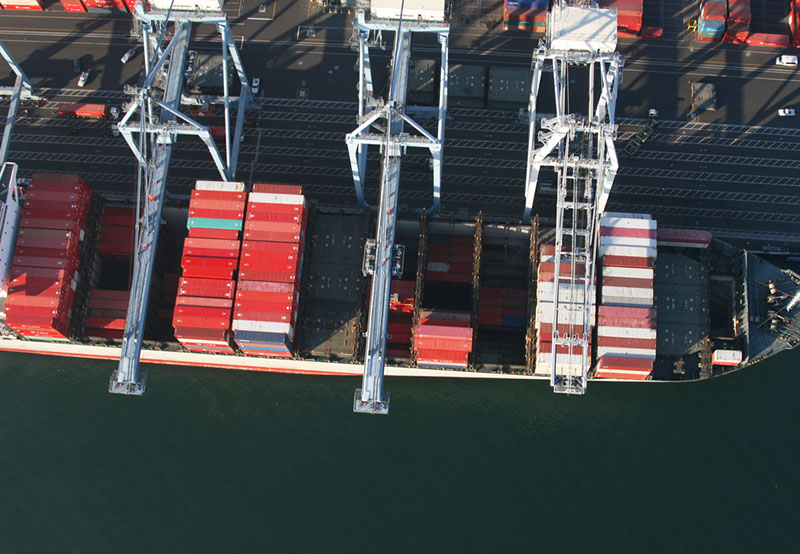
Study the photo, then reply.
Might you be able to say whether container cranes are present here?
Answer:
Yes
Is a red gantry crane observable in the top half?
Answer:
No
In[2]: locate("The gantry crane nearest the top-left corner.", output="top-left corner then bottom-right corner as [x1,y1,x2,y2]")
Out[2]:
[0,40,48,188]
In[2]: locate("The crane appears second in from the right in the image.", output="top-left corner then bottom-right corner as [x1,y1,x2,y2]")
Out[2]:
[341,0,456,415]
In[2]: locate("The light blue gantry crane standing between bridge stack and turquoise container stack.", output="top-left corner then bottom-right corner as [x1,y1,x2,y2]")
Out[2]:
[105,0,266,399]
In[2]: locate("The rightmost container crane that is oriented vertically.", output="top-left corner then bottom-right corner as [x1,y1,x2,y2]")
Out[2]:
[512,1,631,399]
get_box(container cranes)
[105,0,266,399]
[0,40,48,188]
[341,0,456,415]
[512,1,631,399]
